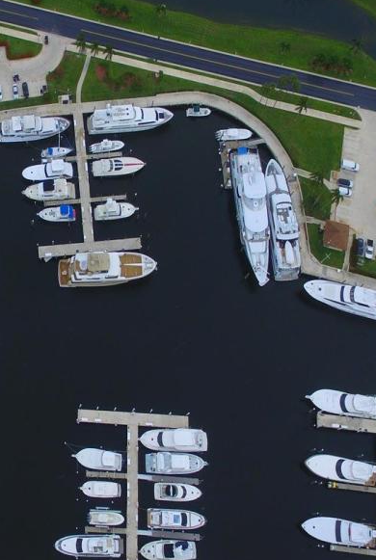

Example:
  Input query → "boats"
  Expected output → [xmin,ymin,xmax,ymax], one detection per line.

[0,116,71,146]
[35,204,76,222]
[86,508,124,525]
[306,452,376,488]
[91,152,146,178]
[306,391,376,418]
[55,532,124,557]
[23,157,75,182]
[69,447,122,471]
[305,282,376,318]
[143,509,207,530]
[94,202,141,222]
[137,540,198,560]
[183,108,211,119]
[215,130,252,142]
[137,427,209,452]
[86,106,174,135]
[79,481,121,498]
[19,182,76,202]
[41,135,73,159]
[266,157,299,289]
[145,452,208,474]
[303,514,376,548]
[56,253,163,289]
[87,142,124,154]
[154,482,202,501]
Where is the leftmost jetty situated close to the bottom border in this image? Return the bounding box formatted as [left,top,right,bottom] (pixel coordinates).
[78,409,200,560]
